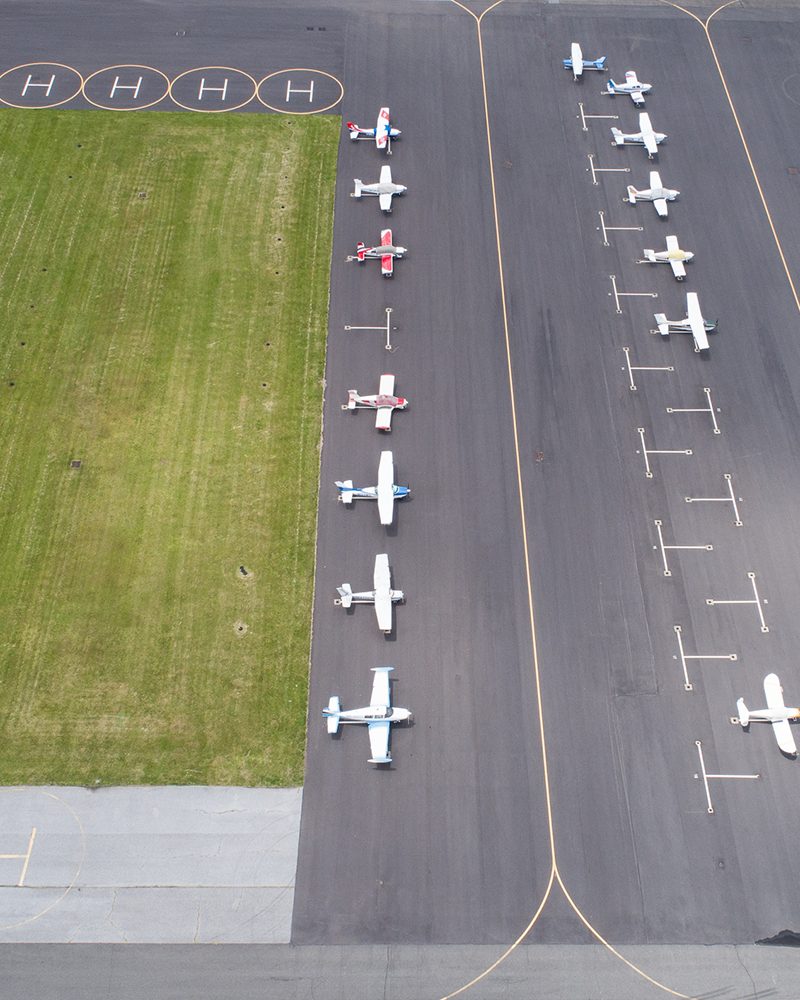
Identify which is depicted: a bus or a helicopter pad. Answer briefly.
helicopter pad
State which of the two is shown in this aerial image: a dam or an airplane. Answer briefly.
airplane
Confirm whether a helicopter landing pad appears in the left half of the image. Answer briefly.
Yes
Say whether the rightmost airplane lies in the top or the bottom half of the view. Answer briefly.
bottom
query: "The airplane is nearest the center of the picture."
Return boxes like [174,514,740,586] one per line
[337,451,410,523]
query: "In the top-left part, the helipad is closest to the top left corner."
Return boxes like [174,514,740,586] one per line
[0,63,84,108]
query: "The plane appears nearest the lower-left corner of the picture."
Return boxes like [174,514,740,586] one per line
[322,668,410,763]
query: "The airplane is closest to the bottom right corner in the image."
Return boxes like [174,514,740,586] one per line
[734,673,800,753]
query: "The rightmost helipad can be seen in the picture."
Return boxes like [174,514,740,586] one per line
[257,68,344,113]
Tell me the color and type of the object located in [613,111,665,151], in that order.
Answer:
white airplane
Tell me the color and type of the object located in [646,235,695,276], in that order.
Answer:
white airplane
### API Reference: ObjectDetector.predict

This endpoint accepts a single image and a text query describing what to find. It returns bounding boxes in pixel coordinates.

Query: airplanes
[656,292,718,349]
[563,42,607,74]
[613,111,665,151]
[734,673,800,753]
[348,375,407,430]
[335,554,405,630]
[626,171,679,216]
[337,451,410,523]
[608,71,653,103]
[347,107,401,147]
[355,166,406,211]
[322,668,410,763]
[356,229,408,273]
[646,235,695,276]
